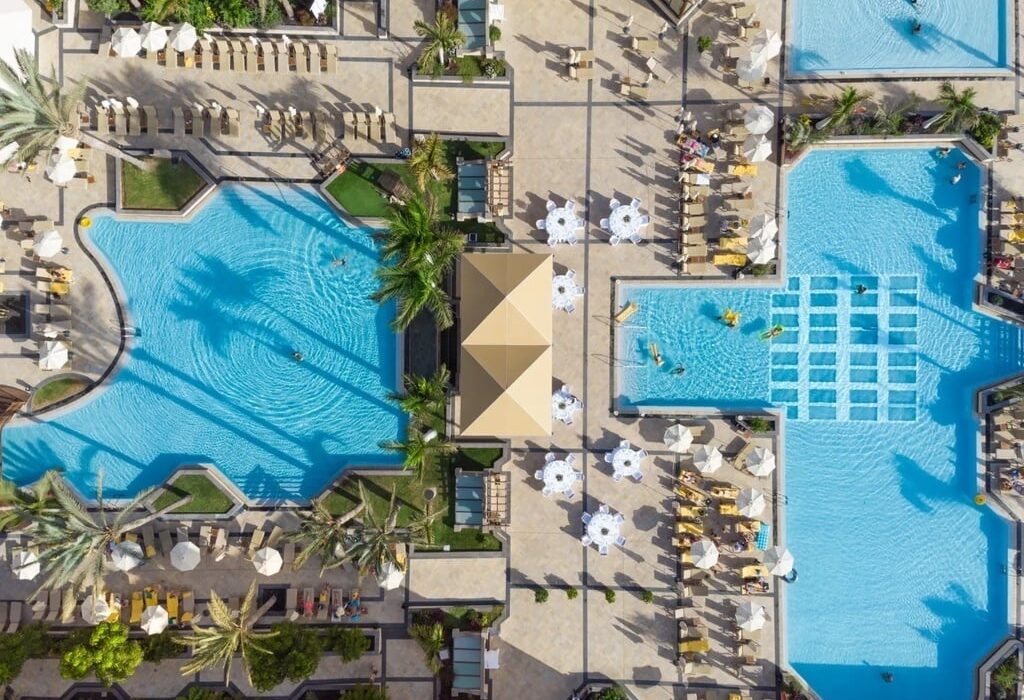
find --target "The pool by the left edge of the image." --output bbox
[5,185,396,502]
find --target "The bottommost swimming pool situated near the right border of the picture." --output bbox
[622,150,1024,700]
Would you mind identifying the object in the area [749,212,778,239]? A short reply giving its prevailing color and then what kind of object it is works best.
white umbrella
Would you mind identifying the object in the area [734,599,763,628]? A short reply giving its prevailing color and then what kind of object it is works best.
white umbrella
